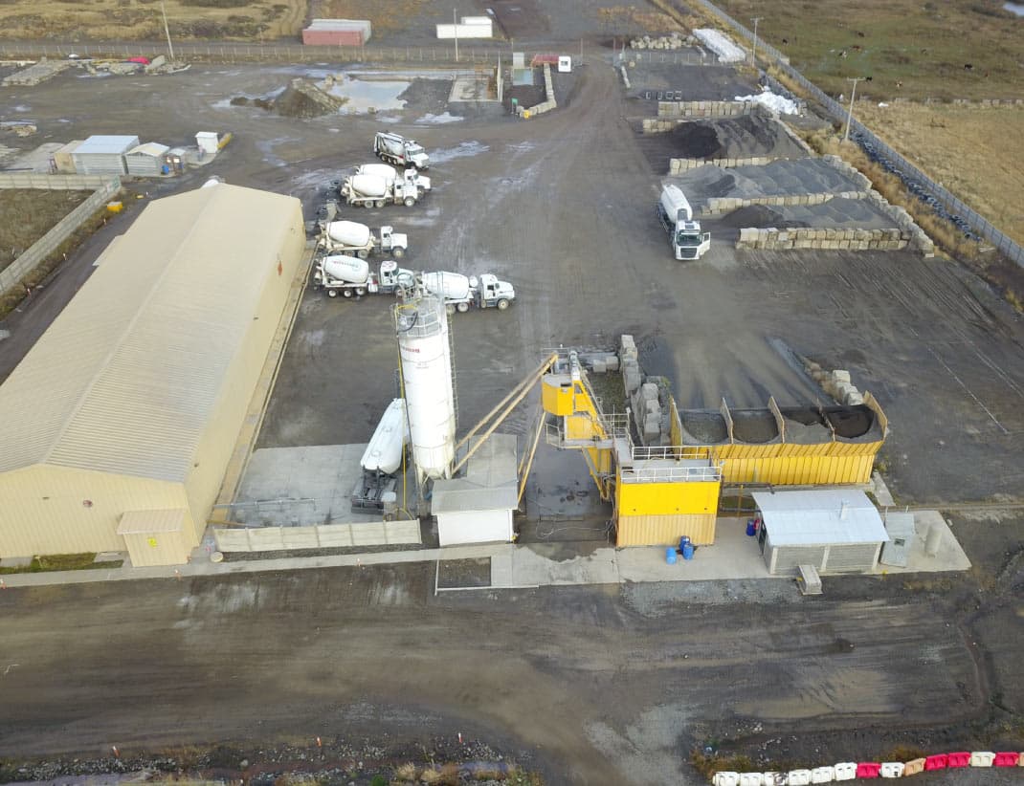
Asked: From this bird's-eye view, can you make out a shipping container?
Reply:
Yes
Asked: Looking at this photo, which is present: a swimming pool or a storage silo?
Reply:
storage silo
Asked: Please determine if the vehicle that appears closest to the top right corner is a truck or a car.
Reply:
truck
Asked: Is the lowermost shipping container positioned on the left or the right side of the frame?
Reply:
right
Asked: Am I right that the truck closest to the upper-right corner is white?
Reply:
Yes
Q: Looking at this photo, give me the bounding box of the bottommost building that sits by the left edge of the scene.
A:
[0,184,306,566]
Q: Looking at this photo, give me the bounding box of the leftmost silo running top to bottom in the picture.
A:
[395,287,466,509]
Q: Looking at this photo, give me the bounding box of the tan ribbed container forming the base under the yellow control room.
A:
[616,511,718,545]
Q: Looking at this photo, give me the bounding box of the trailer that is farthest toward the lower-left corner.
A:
[350,393,412,510]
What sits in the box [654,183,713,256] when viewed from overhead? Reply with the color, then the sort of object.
white truck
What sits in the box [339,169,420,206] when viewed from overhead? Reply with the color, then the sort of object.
white truck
